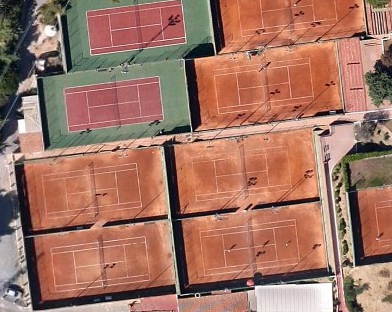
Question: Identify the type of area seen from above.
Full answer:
What you see here is a sports ground.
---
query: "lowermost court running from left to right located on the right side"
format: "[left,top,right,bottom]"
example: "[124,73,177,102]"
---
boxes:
[174,201,329,293]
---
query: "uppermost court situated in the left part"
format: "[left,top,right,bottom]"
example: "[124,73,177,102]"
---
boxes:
[62,0,214,74]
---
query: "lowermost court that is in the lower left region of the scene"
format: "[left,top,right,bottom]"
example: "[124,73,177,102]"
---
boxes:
[25,220,178,310]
